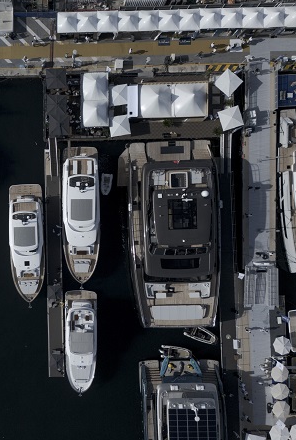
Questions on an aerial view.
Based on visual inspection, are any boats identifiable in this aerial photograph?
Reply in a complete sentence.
Yes, a boat appears in the view.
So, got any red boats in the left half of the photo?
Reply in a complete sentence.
No, no red boat can be made out in the left half of the photo.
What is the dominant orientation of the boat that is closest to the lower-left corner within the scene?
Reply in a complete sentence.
What the image shows is the boat that is closest to the lower-left corner lying up and down.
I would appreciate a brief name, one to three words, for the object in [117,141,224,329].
boat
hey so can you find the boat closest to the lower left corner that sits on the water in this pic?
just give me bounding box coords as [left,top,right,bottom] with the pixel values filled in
[62,290,97,400]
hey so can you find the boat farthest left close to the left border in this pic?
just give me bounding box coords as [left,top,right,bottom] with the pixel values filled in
[9,184,45,310]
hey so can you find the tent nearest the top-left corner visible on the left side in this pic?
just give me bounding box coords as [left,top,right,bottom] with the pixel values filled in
[57,12,78,40]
